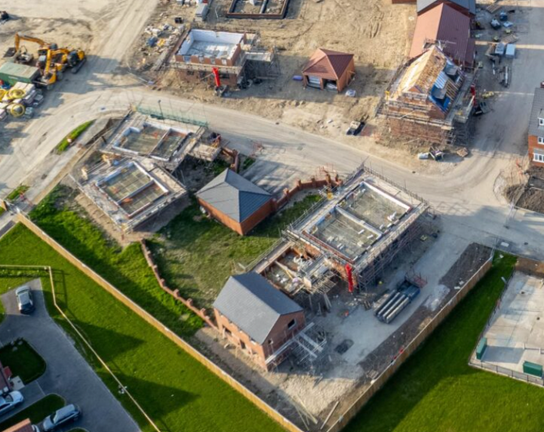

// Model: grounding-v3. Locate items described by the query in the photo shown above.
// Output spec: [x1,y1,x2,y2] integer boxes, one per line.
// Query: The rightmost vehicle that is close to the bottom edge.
[37,399,83,430]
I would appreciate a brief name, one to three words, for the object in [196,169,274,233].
building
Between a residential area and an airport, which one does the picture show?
residential area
